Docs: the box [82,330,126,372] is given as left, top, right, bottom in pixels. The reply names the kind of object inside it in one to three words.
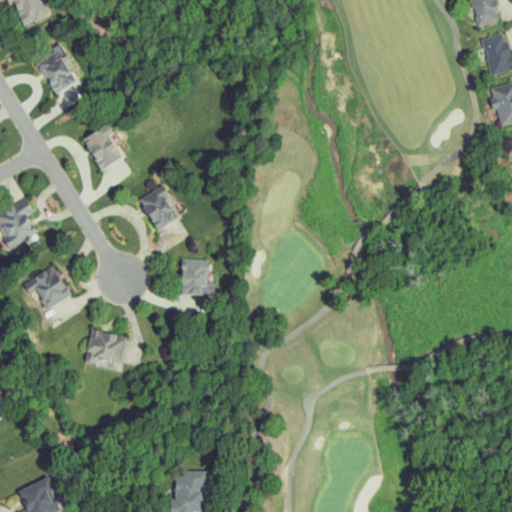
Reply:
house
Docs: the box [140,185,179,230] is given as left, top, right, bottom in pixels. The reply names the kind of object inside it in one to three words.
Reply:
house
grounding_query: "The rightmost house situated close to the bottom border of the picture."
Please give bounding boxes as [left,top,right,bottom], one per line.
[170,472,206,512]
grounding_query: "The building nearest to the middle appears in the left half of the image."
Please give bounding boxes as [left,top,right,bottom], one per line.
[180,258,214,296]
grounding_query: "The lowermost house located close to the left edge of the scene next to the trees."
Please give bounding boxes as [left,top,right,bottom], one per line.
[17,476,64,512]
